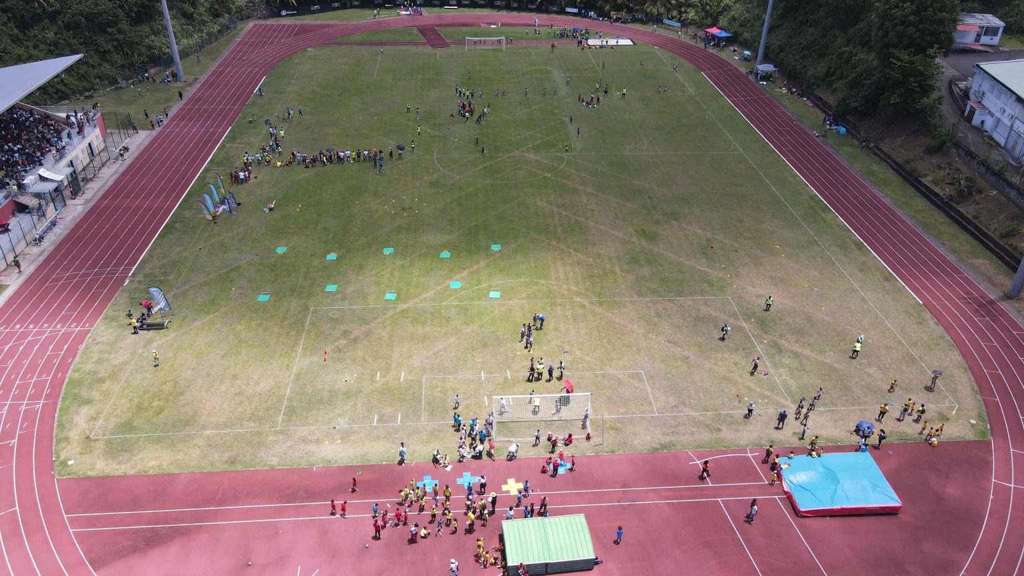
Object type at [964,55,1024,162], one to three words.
building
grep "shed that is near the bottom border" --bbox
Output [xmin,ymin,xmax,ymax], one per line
[501,512,597,576]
